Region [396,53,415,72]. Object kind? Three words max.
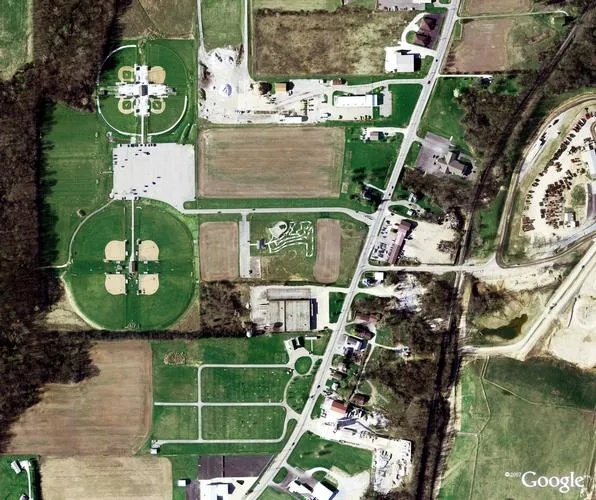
building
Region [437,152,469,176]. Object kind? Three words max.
building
